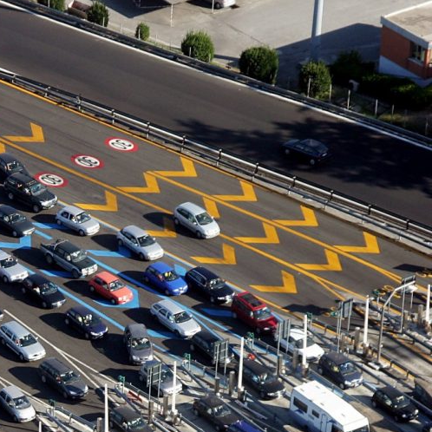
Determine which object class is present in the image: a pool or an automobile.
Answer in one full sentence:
The one in the frame is an automobile.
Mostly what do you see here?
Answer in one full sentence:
The largest share of the image is taken up by paved ground.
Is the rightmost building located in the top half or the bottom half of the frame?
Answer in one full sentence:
The rightmost building is in the top half of the image.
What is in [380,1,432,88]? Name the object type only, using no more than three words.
building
